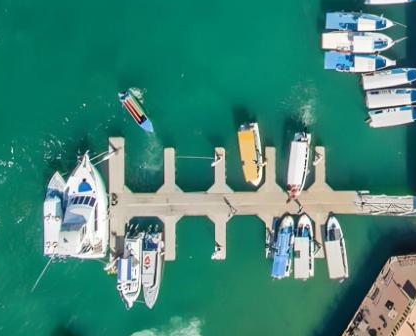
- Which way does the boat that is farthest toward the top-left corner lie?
on a diagonal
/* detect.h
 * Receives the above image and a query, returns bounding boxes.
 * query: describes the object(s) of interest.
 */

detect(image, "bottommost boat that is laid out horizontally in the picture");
[365,105,416,128]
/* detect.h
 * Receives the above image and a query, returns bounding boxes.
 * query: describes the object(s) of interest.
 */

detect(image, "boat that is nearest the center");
[239,121,266,186]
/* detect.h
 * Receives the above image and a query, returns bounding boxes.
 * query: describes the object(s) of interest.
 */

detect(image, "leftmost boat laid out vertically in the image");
[45,172,67,261]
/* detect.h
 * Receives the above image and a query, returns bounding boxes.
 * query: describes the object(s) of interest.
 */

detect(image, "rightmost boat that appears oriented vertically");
[324,216,348,282]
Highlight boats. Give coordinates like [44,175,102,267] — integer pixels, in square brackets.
[45,172,67,261]
[324,216,348,282]
[361,67,416,91]
[239,121,266,186]
[119,90,154,132]
[270,215,296,281]
[365,89,416,109]
[285,131,311,197]
[119,227,145,309]
[365,105,416,128]
[58,147,110,259]
[323,51,398,71]
[141,227,163,309]
[324,11,399,32]
[292,214,314,281]
[321,31,403,52]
